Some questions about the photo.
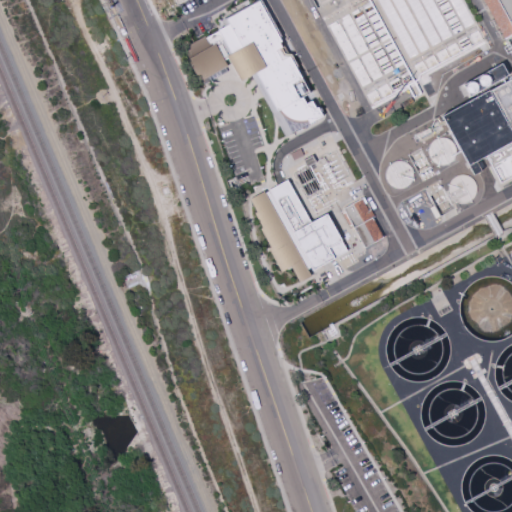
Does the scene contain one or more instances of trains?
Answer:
No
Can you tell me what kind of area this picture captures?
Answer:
industrial area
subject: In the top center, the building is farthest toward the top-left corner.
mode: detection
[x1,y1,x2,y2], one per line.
[188,37,229,83]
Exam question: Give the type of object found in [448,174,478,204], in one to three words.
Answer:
storage tank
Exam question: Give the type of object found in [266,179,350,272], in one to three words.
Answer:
building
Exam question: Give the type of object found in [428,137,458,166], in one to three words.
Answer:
storage tank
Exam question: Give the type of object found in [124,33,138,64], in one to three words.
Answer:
vehicle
